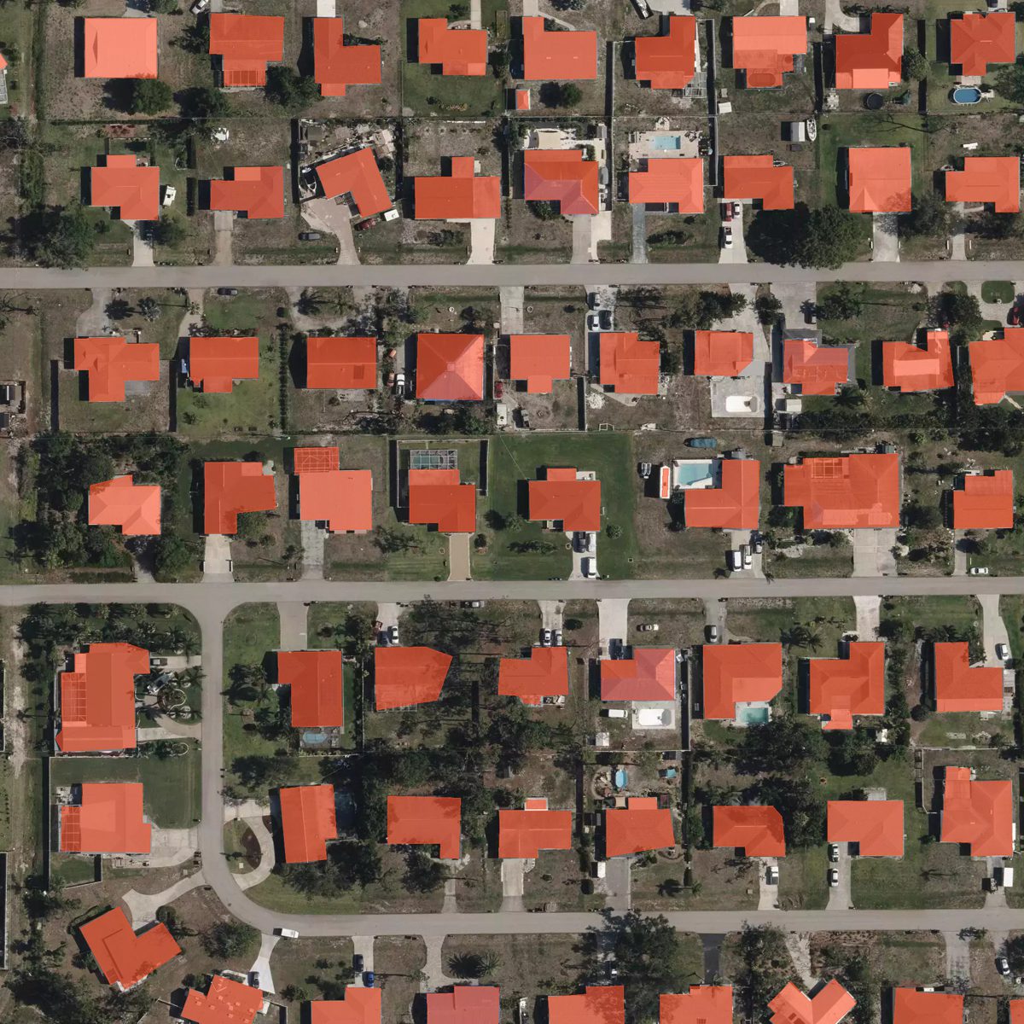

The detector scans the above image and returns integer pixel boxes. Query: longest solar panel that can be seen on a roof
[823,510,858,525]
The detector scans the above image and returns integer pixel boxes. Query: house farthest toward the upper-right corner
[952,12,1016,74]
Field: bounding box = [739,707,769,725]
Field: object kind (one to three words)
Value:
swimming pool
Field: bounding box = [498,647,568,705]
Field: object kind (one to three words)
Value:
house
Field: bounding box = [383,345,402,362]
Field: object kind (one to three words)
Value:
car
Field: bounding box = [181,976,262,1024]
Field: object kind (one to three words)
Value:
house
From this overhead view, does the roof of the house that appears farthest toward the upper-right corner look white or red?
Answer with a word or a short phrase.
red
